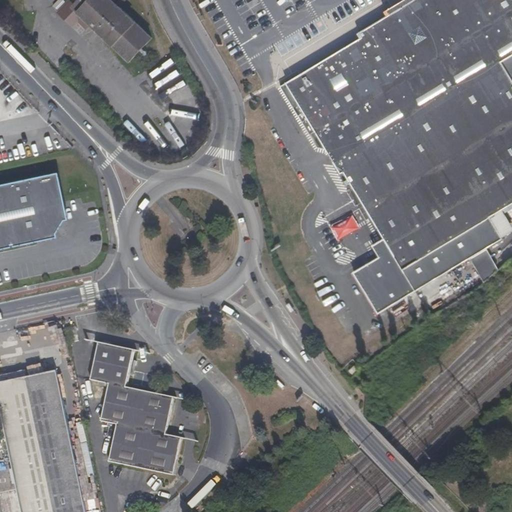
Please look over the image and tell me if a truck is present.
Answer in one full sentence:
Yes, a truck can be made out from above.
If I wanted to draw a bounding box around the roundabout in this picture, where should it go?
[122,170,256,306]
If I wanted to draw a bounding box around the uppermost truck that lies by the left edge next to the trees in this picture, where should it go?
[2,40,36,73]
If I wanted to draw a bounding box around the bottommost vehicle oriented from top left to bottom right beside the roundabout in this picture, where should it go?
[221,304,240,319]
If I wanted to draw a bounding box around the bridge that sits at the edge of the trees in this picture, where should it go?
[342,411,458,512]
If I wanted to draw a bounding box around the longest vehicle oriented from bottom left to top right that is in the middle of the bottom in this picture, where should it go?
[188,476,220,509]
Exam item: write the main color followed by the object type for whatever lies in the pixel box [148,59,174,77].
white vehicle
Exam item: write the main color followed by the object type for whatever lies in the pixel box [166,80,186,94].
white vehicle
